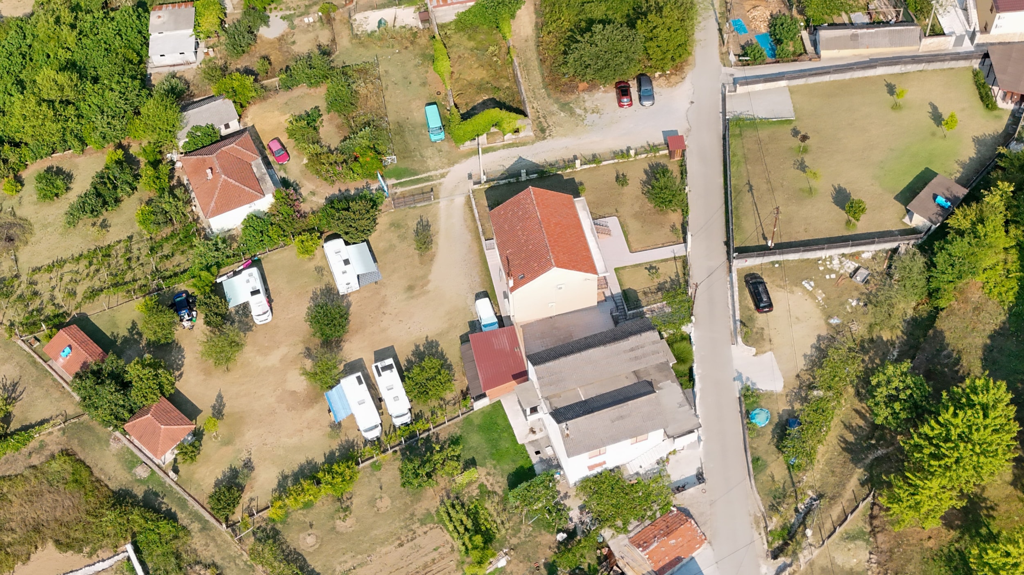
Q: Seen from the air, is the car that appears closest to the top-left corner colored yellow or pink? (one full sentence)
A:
From above, the car that appears closest to the top-left corner appears pink.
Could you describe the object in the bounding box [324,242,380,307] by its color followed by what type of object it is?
white camper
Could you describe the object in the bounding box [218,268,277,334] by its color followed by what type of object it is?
white camper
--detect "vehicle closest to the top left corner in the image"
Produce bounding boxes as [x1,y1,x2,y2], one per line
[267,137,291,164]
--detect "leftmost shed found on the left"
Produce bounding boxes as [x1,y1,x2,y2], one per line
[43,324,105,386]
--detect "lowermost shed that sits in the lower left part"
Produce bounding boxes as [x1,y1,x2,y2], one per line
[124,395,195,463]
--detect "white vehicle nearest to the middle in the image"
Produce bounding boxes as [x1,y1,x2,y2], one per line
[474,289,499,331]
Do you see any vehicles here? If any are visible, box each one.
[744,276,775,313]
[267,137,291,164]
[326,373,384,442]
[424,103,446,142]
[474,289,499,331]
[324,242,380,307]
[167,292,197,325]
[372,358,414,427]
[218,268,277,334]
[614,81,634,110]
[636,76,656,108]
